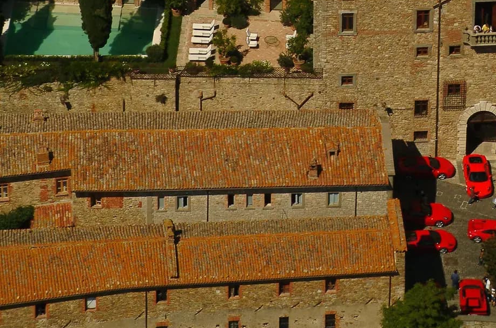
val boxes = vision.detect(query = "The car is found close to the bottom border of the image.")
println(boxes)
[457,278,490,318]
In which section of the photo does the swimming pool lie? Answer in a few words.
top left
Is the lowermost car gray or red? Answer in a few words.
red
